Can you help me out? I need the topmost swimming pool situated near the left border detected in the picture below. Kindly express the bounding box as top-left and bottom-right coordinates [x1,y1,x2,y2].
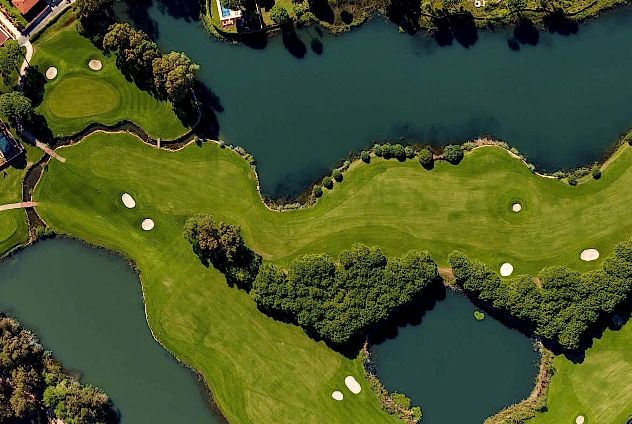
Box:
[0,132,17,161]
